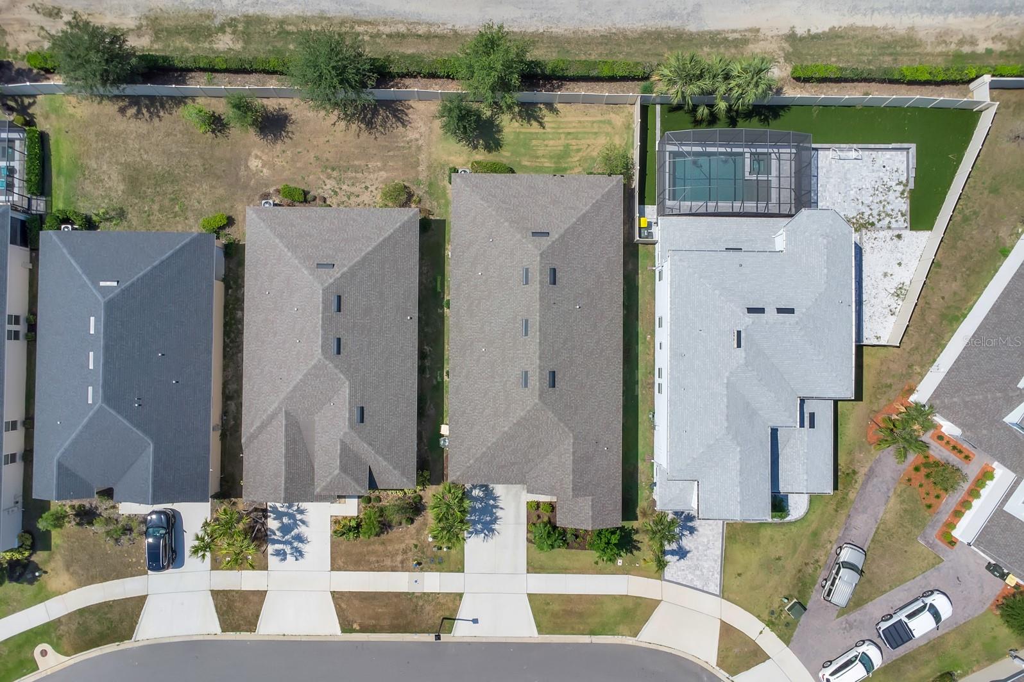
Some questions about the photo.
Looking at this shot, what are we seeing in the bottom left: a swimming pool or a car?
car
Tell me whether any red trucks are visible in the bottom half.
No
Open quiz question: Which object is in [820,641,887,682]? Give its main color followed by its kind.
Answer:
white car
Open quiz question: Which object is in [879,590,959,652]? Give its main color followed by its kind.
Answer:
white truck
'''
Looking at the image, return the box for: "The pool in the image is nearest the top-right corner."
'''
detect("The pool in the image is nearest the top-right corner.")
[668,144,776,207]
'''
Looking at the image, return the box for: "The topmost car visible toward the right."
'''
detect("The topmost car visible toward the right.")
[823,541,870,610]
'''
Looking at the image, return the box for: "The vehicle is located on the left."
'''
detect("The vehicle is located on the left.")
[140,508,178,577]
